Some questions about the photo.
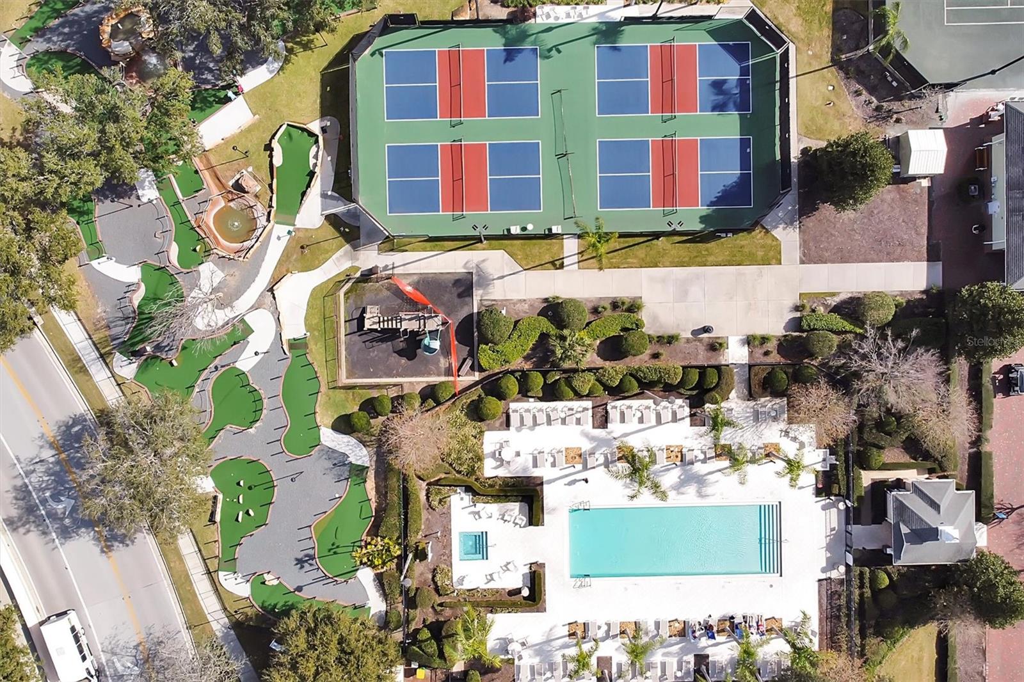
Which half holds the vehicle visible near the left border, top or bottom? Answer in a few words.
bottom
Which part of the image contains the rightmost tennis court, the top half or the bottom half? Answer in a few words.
top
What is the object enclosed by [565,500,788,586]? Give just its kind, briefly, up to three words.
swimming pool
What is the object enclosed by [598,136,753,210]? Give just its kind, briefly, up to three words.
sports court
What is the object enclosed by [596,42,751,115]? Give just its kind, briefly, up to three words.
sports court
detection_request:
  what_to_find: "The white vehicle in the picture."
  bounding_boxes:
[42,607,113,682]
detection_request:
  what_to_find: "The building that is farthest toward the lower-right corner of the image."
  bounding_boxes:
[887,479,978,565]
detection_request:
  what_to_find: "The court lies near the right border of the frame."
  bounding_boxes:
[885,0,1024,91]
